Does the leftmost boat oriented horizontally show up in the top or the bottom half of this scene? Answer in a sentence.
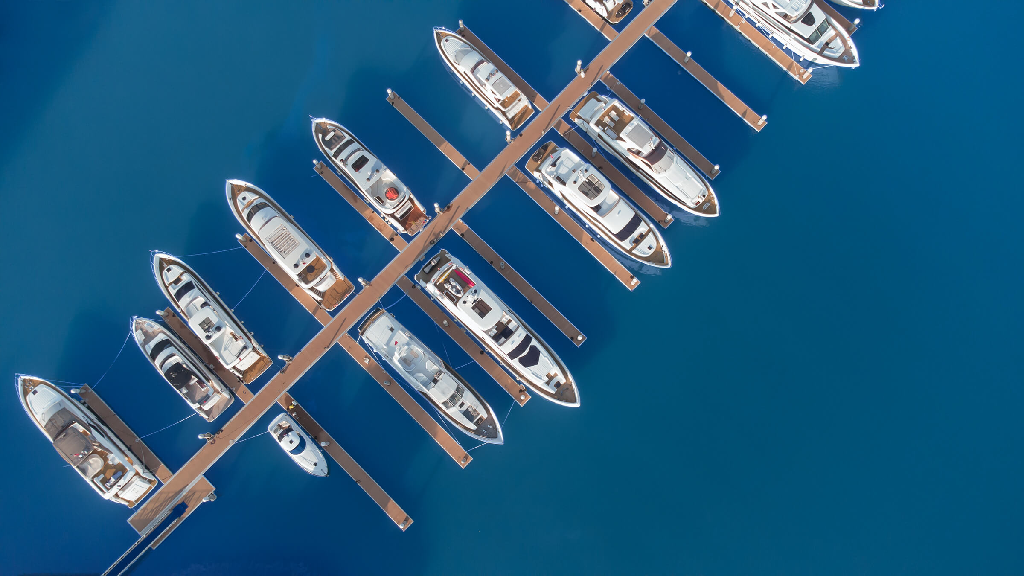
The leftmost boat oriented horizontally is in the top half of the image.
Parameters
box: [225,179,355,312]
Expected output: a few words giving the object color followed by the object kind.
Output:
white boat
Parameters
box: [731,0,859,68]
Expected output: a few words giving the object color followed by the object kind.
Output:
white boat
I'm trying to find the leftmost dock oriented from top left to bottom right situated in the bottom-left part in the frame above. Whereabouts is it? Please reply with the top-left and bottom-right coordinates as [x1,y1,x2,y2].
[77,382,173,485]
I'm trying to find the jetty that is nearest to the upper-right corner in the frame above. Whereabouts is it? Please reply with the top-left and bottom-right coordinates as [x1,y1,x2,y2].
[814,0,858,38]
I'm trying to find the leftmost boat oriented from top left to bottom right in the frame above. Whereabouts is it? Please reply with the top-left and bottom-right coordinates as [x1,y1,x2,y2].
[15,374,159,508]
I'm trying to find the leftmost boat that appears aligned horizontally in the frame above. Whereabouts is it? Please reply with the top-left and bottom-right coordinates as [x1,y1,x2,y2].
[581,0,633,25]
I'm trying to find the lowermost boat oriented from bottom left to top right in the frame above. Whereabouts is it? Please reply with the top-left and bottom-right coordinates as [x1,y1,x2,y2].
[107,472,123,487]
